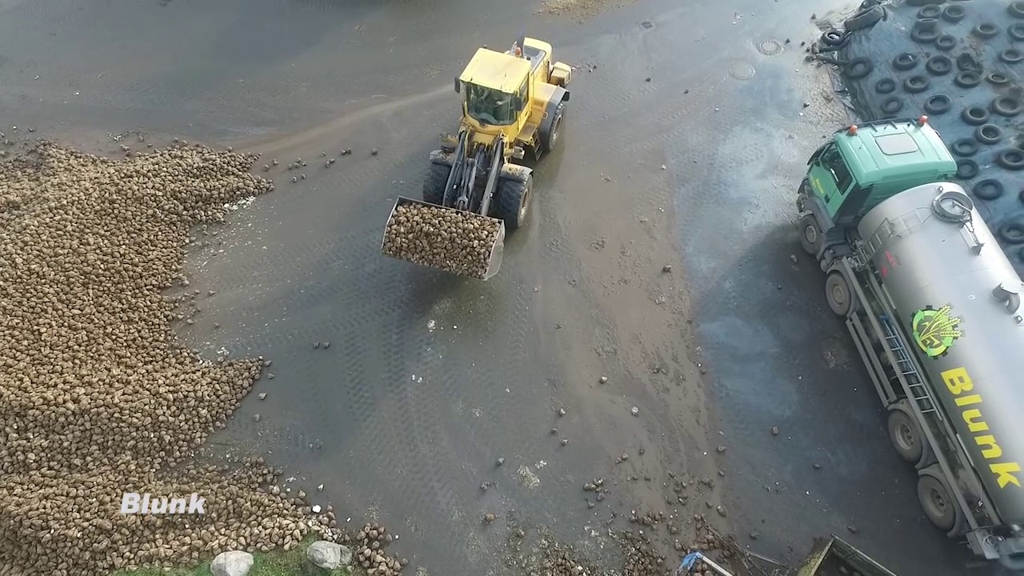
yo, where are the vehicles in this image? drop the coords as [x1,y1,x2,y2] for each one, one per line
[793,120,1024,576]
[379,30,575,285]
